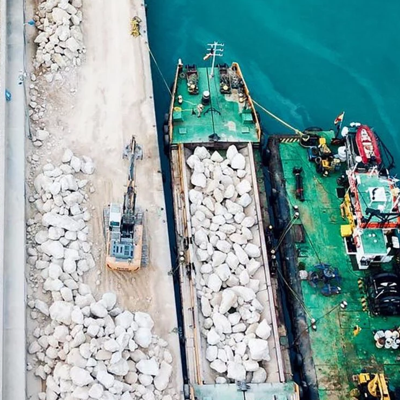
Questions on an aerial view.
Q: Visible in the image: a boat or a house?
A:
boat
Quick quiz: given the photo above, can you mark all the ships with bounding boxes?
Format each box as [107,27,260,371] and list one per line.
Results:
[263,119,400,400]
[163,48,305,400]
